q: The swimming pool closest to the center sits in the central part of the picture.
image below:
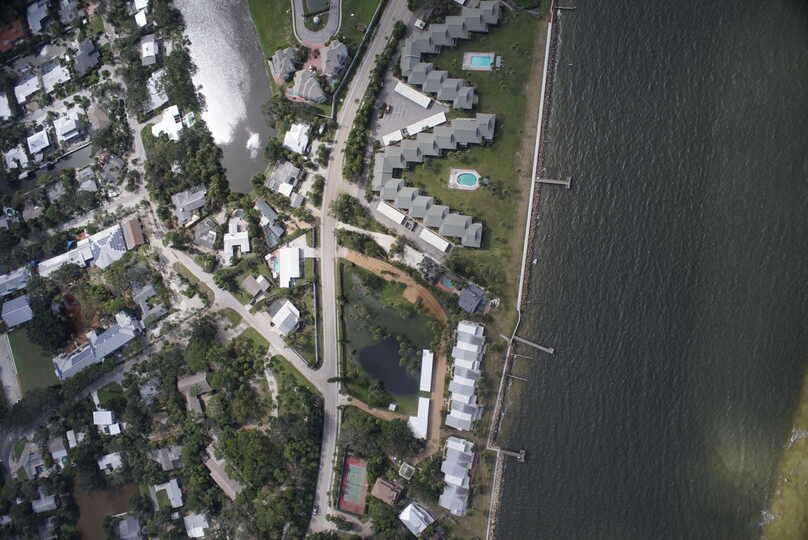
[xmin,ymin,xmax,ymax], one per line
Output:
[436,275,457,294]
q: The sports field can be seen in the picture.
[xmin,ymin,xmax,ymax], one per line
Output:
[10,331,58,396]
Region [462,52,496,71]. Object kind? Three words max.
swimming pool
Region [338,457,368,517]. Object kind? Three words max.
tennis court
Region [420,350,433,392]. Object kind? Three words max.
shed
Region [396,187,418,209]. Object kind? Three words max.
house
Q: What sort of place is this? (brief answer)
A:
residential area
